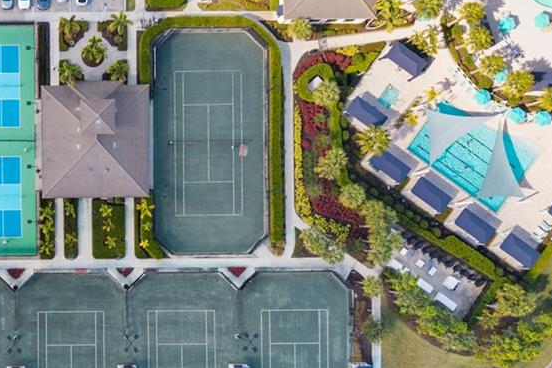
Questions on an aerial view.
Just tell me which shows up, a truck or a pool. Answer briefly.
pool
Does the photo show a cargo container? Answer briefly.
No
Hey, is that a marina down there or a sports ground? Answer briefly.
sports ground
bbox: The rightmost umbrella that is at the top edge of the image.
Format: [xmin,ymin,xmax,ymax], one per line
[530,12,549,29]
